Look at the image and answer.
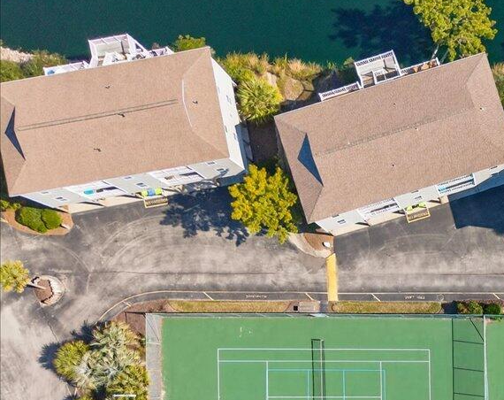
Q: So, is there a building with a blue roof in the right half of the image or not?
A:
No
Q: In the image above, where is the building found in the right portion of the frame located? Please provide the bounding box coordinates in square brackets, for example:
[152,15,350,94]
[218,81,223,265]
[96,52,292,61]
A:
[275,52,504,236]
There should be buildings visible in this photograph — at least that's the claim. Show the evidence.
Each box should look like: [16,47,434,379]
[275,52,504,236]
[0,36,258,212]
